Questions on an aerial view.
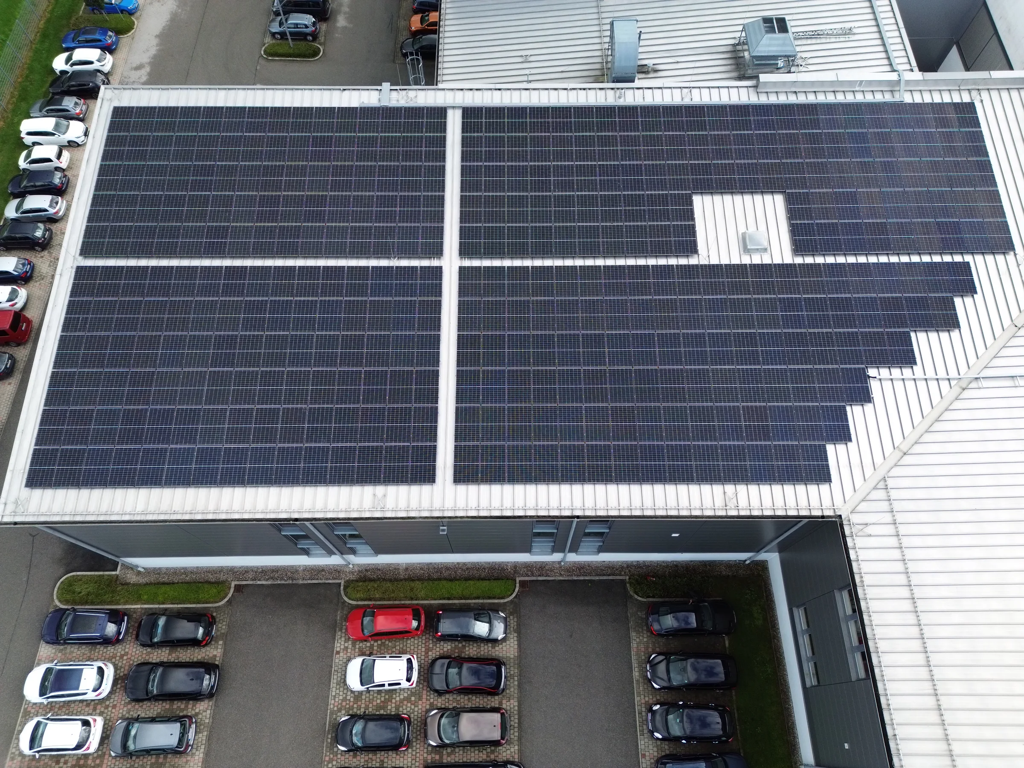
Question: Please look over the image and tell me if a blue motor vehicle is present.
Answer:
Yes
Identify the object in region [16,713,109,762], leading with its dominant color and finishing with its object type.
white car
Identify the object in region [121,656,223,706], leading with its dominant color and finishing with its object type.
black car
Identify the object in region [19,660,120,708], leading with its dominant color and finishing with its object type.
white car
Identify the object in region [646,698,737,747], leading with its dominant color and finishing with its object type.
black car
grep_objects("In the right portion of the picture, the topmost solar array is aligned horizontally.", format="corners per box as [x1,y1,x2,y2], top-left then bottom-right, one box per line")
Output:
[457,104,1015,255]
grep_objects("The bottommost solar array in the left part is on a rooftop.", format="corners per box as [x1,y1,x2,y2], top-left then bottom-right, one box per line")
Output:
[26,264,443,487]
